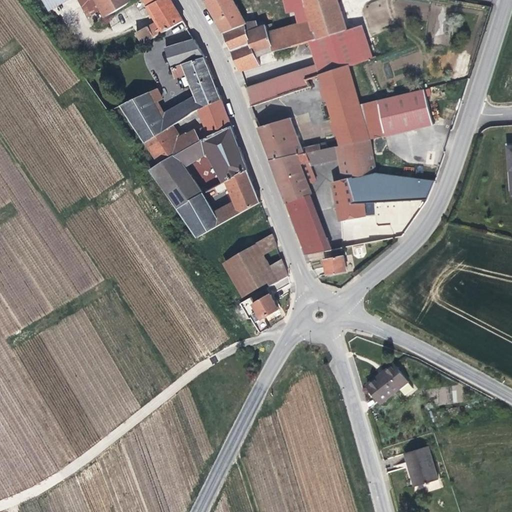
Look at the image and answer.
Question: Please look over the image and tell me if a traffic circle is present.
Yes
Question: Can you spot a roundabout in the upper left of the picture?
No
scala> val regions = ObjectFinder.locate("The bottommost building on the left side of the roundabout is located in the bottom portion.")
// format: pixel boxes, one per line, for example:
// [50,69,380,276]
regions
[251,294,278,321]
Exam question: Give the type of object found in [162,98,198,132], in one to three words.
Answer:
shed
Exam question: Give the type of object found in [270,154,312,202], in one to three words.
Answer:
house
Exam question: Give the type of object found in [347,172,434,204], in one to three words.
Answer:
building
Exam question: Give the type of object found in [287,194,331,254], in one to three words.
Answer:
barn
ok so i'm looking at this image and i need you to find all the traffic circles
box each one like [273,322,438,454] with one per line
[276,270,386,361]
